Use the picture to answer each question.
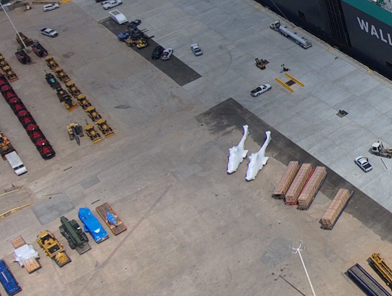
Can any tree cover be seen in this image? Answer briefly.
No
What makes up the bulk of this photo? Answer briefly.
paved ground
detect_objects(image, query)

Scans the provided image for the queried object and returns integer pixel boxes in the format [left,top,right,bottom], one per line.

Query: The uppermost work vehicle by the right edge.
[371,138,392,156]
